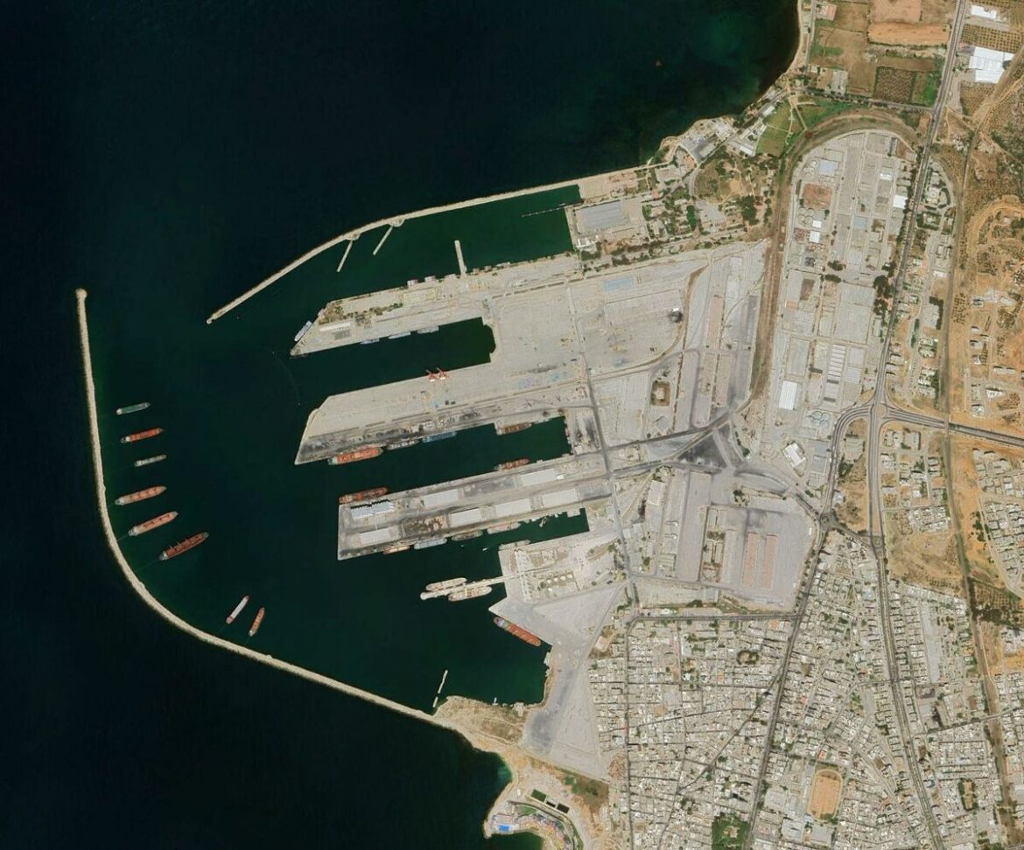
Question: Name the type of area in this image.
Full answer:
This image shows a port.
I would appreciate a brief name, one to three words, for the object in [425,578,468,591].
ship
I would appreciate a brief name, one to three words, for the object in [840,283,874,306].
shed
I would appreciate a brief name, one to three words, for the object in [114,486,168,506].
ship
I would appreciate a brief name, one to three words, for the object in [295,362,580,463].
pier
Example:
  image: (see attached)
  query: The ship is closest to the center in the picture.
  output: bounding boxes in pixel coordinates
[496,422,532,435]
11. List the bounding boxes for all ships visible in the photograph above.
[448,586,493,601]
[386,439,421,450]
[225,596,248,624]
[487,522,522,534]
[496,422,532,435]
[134,455,166,466]
[158,533,210,562]
[127,512,180,537]
[452,530,483,541]
[360,339,380,345]
[492,616,542,646]
[499,540,530,550]
[425,578,468,591]
[120,428,164,443]
[383,545,410,555]
[338,487,388,504]
[388,332,410,339]
[417,324,440,332]
[422,430,457,443]
[414,538,447,550]
[327,447,384,466]
[495,458,529,471]
[248,607,265,637]
[116,402,151,414]
[114,486,168,506]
